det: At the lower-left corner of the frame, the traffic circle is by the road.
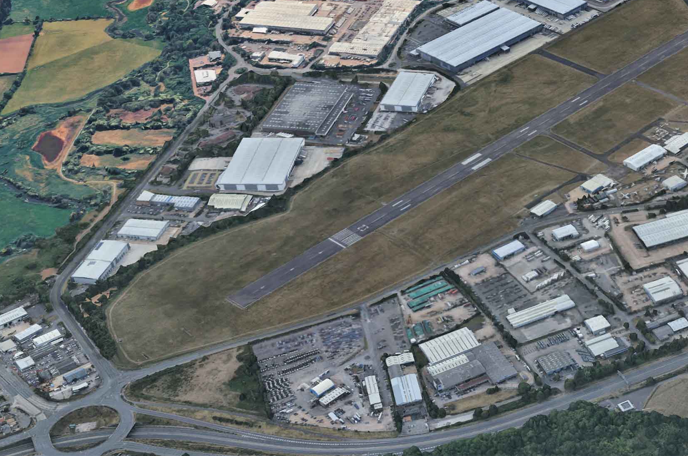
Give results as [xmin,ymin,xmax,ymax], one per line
[32,394,134,456]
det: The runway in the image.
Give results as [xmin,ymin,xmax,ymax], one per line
[228,31,688,308]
